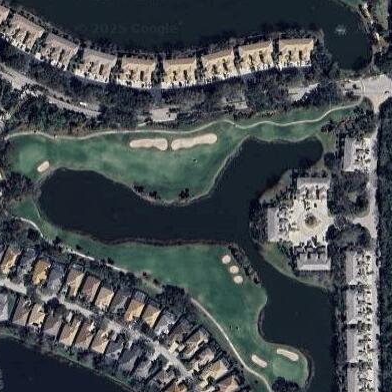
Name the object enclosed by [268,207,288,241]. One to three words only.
house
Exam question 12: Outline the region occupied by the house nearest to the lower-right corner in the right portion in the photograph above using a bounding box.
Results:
[343,368,364,392]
